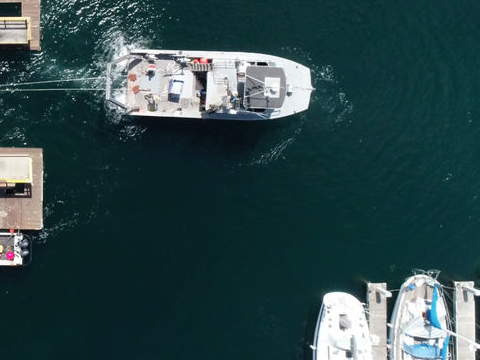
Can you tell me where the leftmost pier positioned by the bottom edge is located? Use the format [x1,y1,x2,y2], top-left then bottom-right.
[365,282,389,360]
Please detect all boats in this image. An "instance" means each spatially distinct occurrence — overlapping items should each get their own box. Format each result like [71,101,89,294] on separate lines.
[386,270,480,360]
[107,51,314,119]
[309,292,373,360]
[0,231,32,266]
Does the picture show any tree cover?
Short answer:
No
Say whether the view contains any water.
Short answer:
Yes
